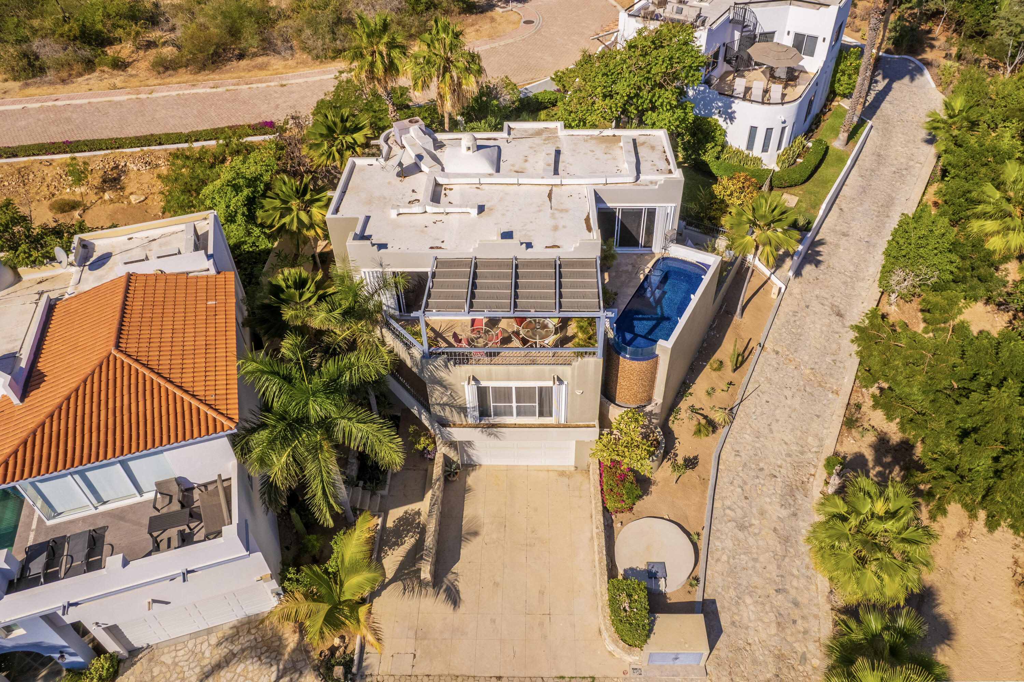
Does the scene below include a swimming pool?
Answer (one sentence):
Yes, there's a swimming pool here.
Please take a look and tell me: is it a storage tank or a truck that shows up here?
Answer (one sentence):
This aerial view contains a storage tank.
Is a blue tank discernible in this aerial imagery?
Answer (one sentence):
No, no blue tank is visible in the view.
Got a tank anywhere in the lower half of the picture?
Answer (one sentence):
Yes, a tank is visible in the lower half of the picture.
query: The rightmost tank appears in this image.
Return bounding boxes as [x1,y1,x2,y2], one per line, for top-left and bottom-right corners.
[615,511,698,589]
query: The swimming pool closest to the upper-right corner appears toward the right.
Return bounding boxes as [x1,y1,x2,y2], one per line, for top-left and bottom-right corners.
[602,254,707,413]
